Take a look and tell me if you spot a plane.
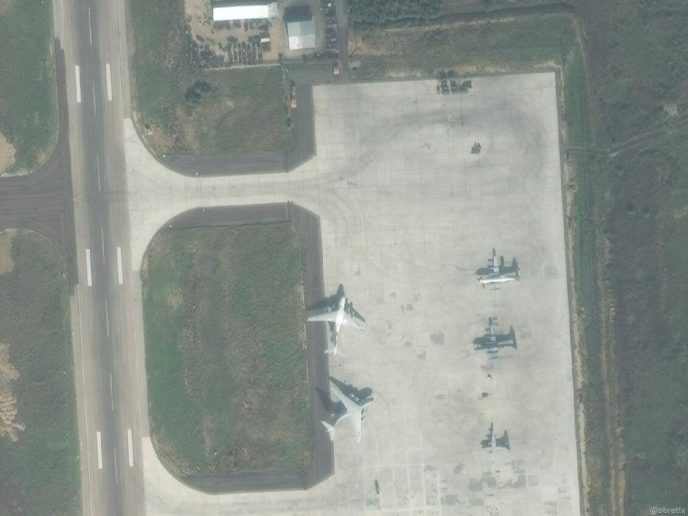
Yes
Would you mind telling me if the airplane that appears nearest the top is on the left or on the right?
right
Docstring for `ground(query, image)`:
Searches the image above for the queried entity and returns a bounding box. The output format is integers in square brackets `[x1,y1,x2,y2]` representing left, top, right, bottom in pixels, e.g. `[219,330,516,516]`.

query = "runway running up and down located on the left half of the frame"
[53,0,150,516]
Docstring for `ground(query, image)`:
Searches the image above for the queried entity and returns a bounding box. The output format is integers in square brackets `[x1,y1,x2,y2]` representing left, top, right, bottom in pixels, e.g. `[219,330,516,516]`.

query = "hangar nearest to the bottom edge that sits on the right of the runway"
[287,20,315,49]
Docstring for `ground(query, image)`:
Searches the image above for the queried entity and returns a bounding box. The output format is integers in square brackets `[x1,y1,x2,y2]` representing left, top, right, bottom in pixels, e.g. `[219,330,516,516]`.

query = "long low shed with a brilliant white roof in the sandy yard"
[212,3,268,22]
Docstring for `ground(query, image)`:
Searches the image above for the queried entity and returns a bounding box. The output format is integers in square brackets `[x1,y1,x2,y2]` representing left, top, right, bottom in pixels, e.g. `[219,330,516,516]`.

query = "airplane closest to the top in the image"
[480,257,521,303]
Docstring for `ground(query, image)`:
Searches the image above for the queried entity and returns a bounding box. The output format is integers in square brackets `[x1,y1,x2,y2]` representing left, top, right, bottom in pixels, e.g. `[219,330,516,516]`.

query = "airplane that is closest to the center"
[308,296,369,353]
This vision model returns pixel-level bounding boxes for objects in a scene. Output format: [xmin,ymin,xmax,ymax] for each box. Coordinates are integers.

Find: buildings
[287,20,315,49]
[212,3,268,22]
